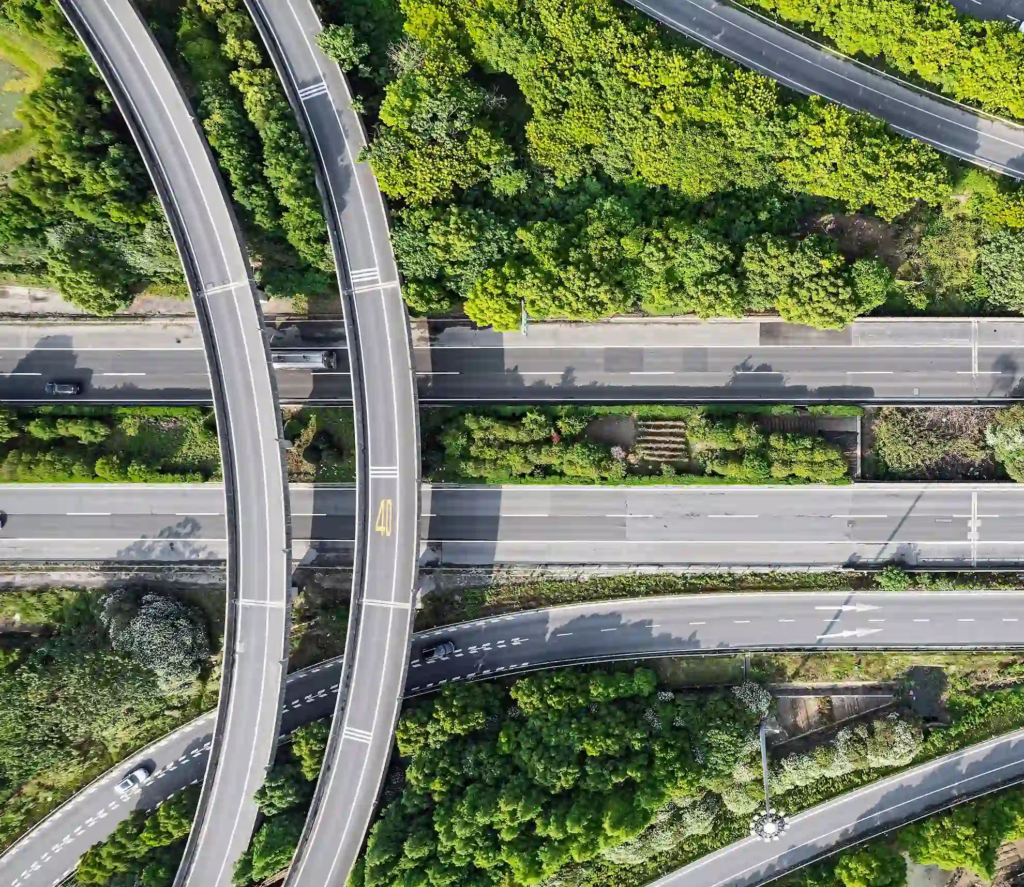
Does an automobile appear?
Yes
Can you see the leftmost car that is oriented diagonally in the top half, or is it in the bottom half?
bottom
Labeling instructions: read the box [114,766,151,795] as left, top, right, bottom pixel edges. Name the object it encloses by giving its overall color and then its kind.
white car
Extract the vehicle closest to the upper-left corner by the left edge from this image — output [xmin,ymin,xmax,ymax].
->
[46,380,82,396]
